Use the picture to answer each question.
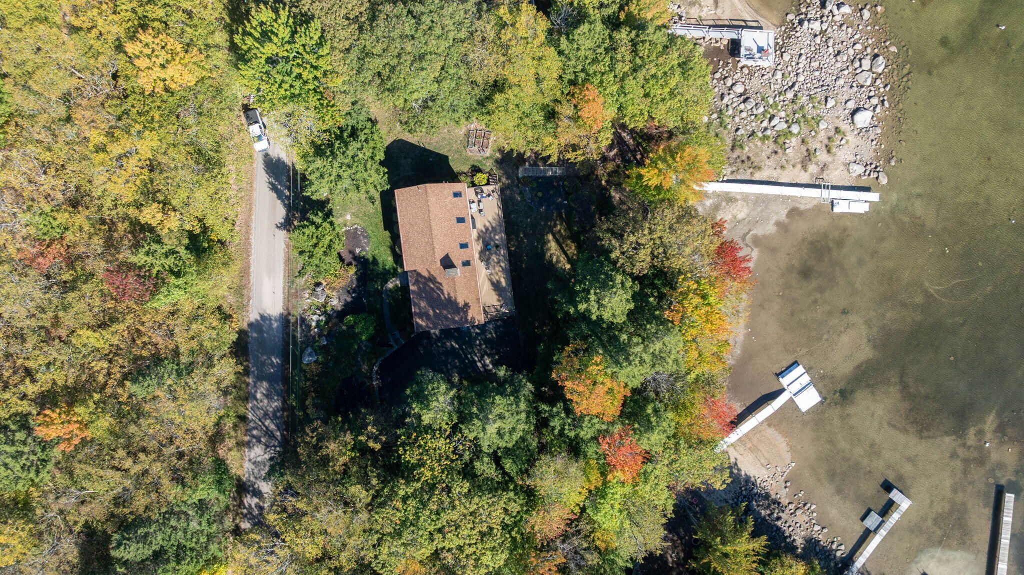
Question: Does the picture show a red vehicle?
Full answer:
No, the picture doesn't show any red vehicle.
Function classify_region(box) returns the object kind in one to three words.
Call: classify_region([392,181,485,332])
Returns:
house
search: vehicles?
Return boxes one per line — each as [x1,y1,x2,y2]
[243,106,271,155]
